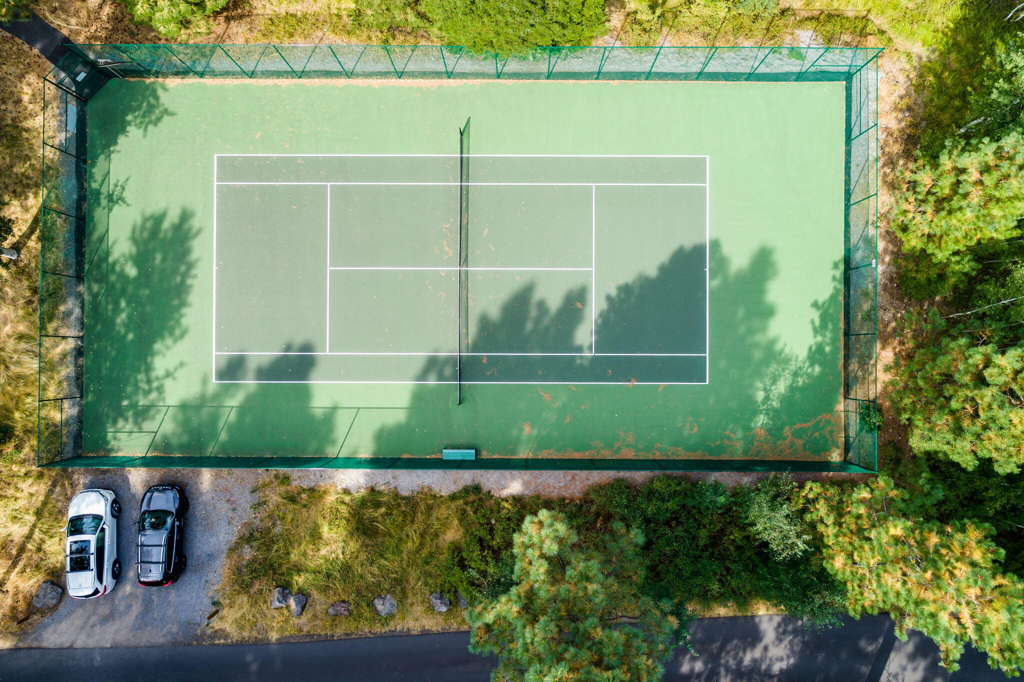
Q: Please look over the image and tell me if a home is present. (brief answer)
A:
No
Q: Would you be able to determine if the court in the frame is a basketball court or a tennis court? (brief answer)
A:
tennis court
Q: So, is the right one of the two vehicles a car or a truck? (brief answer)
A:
car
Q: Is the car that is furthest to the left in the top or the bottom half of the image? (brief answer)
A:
bottom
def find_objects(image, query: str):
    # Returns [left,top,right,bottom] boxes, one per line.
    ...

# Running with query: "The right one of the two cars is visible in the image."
[135,484,191,587]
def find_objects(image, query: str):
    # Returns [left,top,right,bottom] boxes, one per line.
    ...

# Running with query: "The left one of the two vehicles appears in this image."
[66,490,123,597]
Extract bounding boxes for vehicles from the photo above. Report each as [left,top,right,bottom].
[66,490,123,597]
[135,484,191,587]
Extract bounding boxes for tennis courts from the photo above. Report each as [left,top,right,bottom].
[74,71,853,469]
